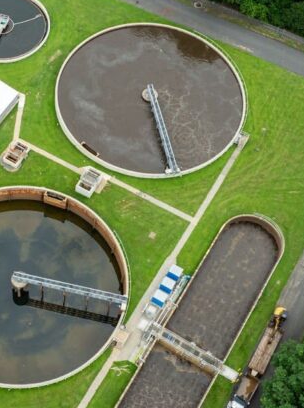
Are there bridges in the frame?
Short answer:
Yes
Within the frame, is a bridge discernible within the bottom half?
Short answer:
Yes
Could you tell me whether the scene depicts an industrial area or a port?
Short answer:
industrial area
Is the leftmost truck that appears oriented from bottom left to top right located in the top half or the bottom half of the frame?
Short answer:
bottom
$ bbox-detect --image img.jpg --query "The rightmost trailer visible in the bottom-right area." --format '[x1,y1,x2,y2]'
[250,308,293,371]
